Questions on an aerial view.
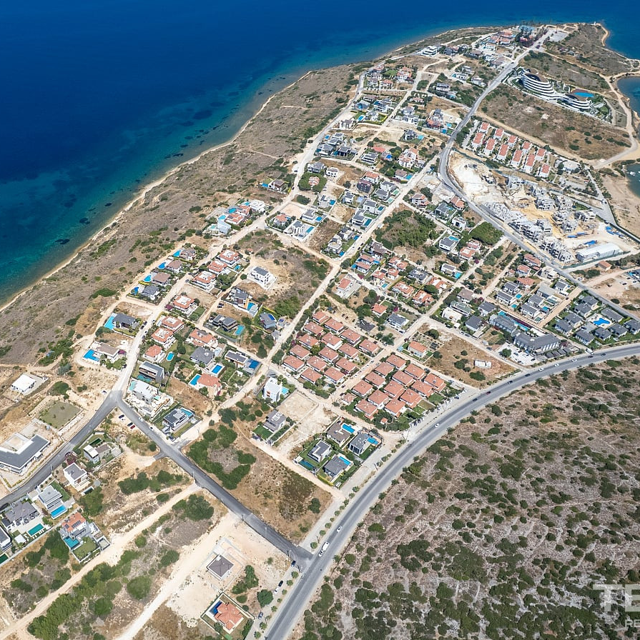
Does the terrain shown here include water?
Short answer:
Yes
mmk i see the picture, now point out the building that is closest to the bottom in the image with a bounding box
[217,598,246,628]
